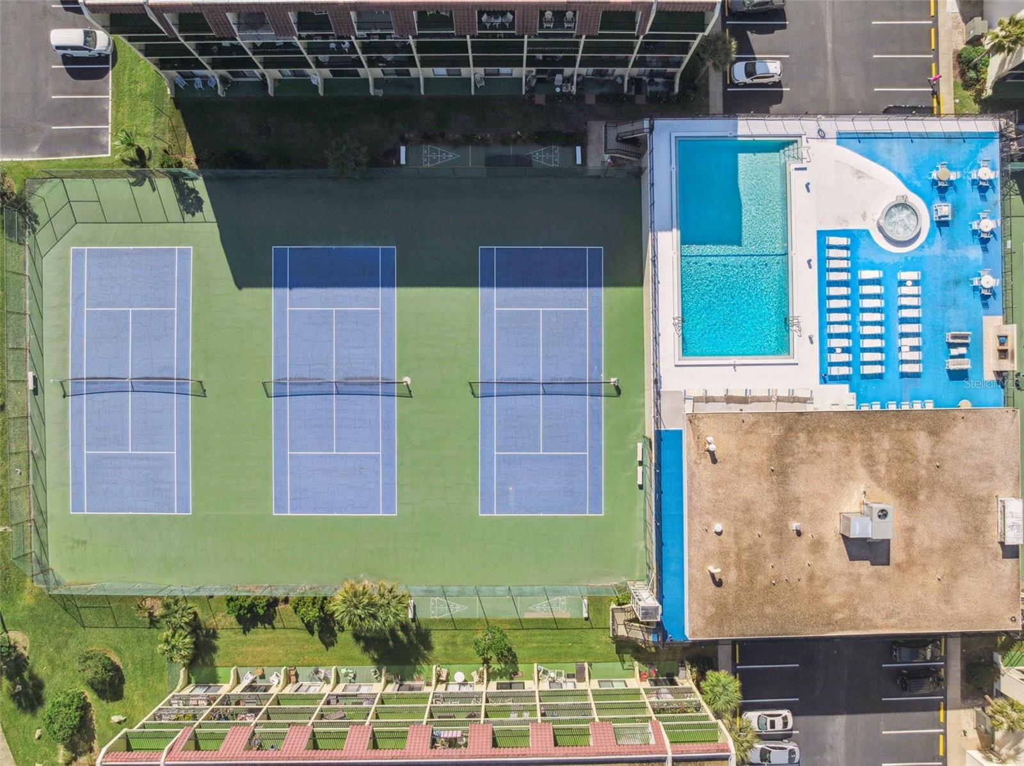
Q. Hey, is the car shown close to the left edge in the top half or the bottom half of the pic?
top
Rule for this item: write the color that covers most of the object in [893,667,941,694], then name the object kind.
black car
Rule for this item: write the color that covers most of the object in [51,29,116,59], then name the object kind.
white car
